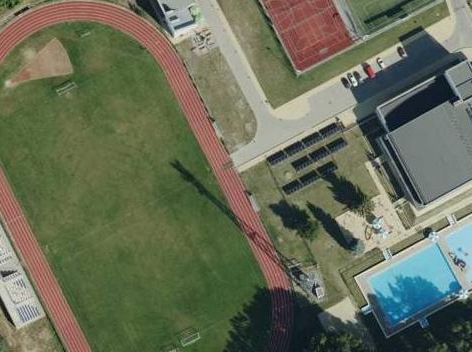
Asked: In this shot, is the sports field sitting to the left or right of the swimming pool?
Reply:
left of it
